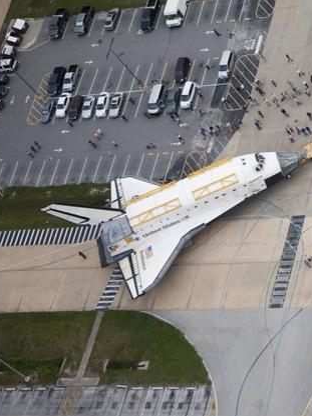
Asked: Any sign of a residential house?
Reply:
No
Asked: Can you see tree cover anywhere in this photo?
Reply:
No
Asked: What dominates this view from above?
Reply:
paved ground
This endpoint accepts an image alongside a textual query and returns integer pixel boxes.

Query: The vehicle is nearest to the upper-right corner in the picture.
[216,50,236,81]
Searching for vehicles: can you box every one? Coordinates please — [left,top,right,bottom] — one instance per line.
[55,92,71,119]
[216,50,236,81]
[48,10,68,40]
[140,0,159,31]
[0,45,21,58]
[74,7,93,37]
[81,94,98,121]
[95,91,112,119]
[61,62,81,94]
[4,35,25,46]
[163,86,181,114]
[145,81,166,116]
[174,57,192,84]
[46,65,66,97]
[40,98,57,124]
[68,94,85,121]
[162,0,188,30]
[0,58,18,73]
[108,91,125,118]
[105,8,121,32]
[178,79,197,110]
[0,72,11,86]
[304,145,312,165]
